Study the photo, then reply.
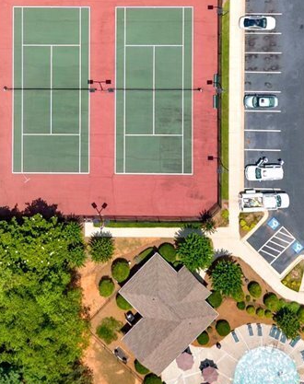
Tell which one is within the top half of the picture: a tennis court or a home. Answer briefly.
tennis court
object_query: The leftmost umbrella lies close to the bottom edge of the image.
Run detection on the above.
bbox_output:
[176,353,193,370]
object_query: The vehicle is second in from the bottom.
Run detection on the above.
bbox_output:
[246,160,284,181]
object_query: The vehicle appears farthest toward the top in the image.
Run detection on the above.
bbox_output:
[239,15,275,31]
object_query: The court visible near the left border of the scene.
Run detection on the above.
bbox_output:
[0,0,102,219]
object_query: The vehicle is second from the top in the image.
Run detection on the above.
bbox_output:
[244,94,278,109]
